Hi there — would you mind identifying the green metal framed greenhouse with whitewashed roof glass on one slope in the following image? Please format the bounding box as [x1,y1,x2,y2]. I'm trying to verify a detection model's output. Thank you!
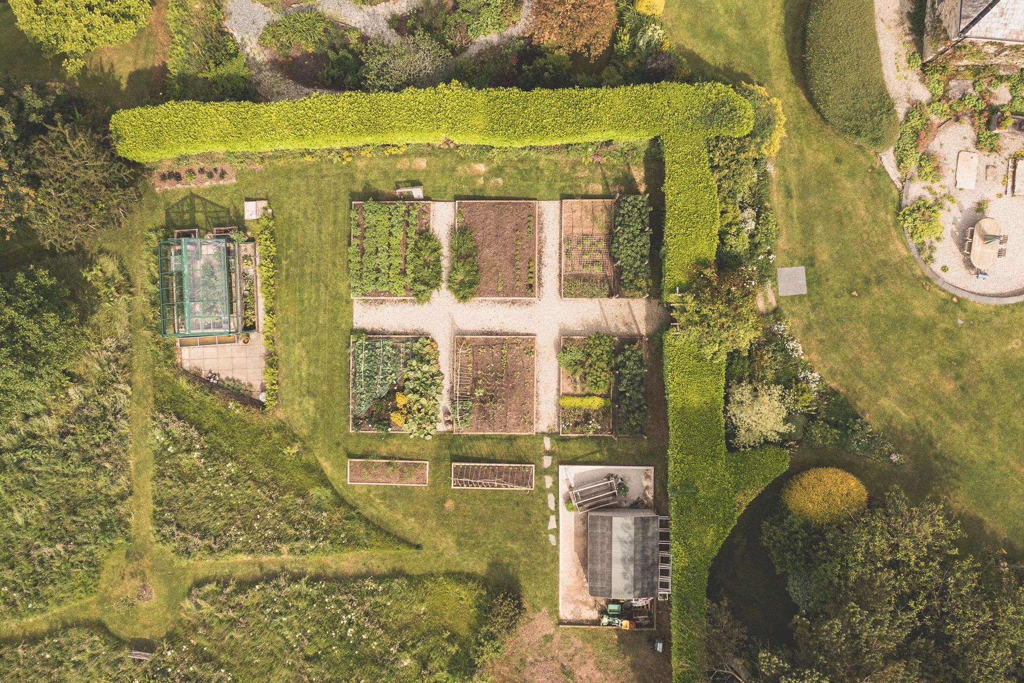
[158,235,239,339]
